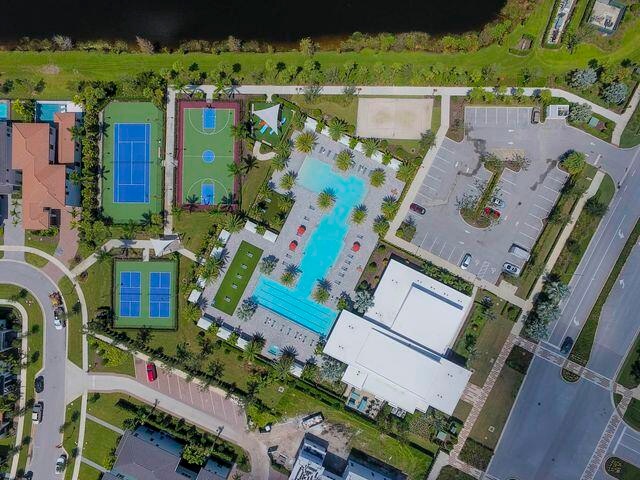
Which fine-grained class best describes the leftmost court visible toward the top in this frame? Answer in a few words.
tennis court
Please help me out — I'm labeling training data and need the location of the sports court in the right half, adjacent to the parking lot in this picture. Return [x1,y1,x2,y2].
[356,97,434,139]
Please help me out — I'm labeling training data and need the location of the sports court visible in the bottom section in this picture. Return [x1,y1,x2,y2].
[113,260,178,329]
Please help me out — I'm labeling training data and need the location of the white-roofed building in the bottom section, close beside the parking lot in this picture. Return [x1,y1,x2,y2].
[323,259,473,416]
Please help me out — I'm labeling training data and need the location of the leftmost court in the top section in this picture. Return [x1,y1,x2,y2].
[102,101,162,222]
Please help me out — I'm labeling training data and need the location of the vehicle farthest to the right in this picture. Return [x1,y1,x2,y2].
[559,335,572,353]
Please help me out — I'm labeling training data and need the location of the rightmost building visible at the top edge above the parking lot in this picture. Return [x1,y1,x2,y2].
[589,0,629,32]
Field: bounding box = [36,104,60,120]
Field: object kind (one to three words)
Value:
swimming pool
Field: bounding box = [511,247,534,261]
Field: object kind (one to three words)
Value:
vehicle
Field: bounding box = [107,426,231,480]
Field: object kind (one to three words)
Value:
house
